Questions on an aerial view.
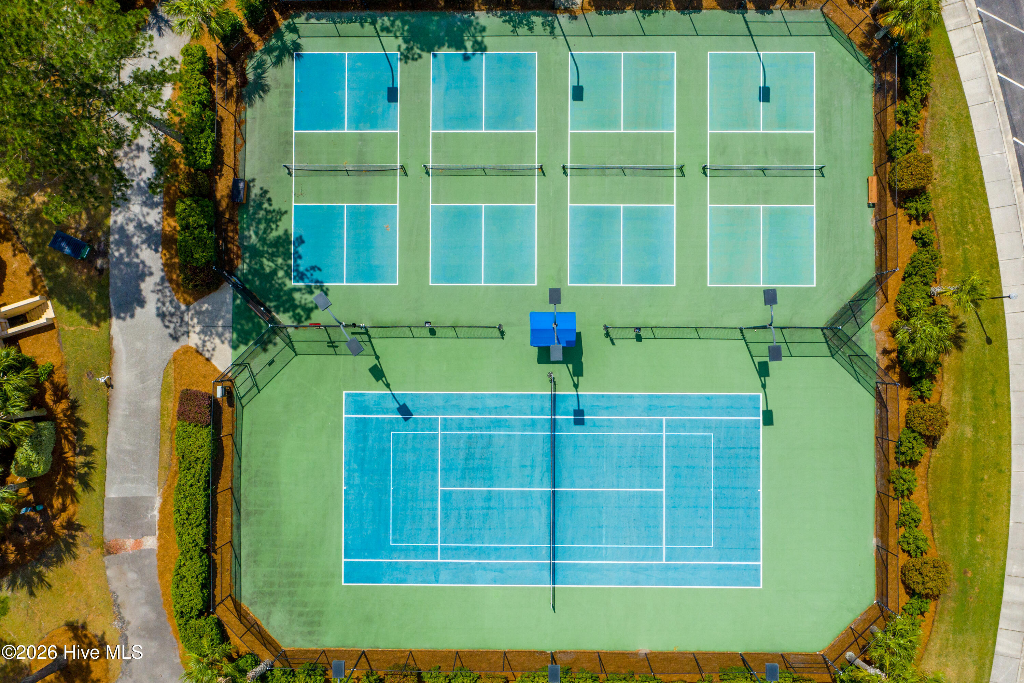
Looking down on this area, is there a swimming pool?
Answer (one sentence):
No, there isn't any swimming pool down there.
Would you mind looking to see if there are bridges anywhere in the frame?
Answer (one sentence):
No, the picture doesn't show any bridge.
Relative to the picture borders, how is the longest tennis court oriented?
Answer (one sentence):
Seen from above, the longest tennis court lies horizontally.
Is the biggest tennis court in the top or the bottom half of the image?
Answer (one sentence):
Seen from above, the biggest tennis court lies in the bottom half of the view.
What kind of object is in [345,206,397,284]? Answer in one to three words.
sports court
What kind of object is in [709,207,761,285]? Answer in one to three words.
sports court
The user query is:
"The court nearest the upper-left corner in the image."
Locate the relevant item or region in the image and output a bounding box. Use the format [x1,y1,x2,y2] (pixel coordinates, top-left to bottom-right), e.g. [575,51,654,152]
[295,53,346,131]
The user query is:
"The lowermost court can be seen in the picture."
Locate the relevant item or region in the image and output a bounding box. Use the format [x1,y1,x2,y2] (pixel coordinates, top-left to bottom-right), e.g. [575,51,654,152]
[343,392,761,588]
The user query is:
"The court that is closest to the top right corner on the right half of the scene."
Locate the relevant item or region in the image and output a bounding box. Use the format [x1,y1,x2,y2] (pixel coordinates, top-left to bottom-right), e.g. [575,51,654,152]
[762,53,815,131]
